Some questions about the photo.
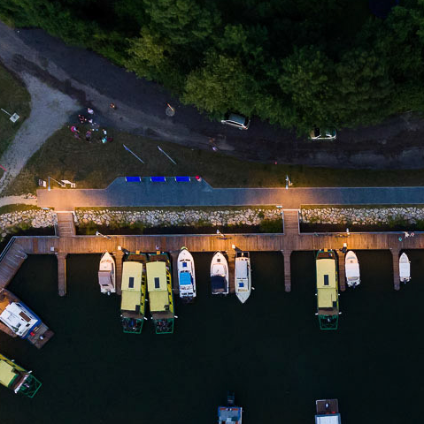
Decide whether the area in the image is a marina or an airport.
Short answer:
marina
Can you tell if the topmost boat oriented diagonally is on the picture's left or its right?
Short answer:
left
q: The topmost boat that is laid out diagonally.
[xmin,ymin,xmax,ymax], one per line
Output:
[0,288,54,348]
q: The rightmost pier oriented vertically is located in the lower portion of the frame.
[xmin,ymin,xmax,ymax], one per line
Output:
[387,250,402,290]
